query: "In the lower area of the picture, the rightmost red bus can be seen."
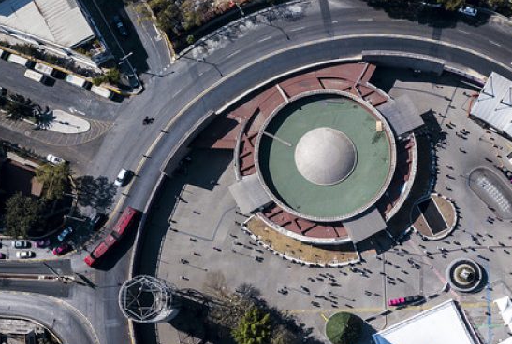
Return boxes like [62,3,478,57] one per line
[83,208,136,264]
